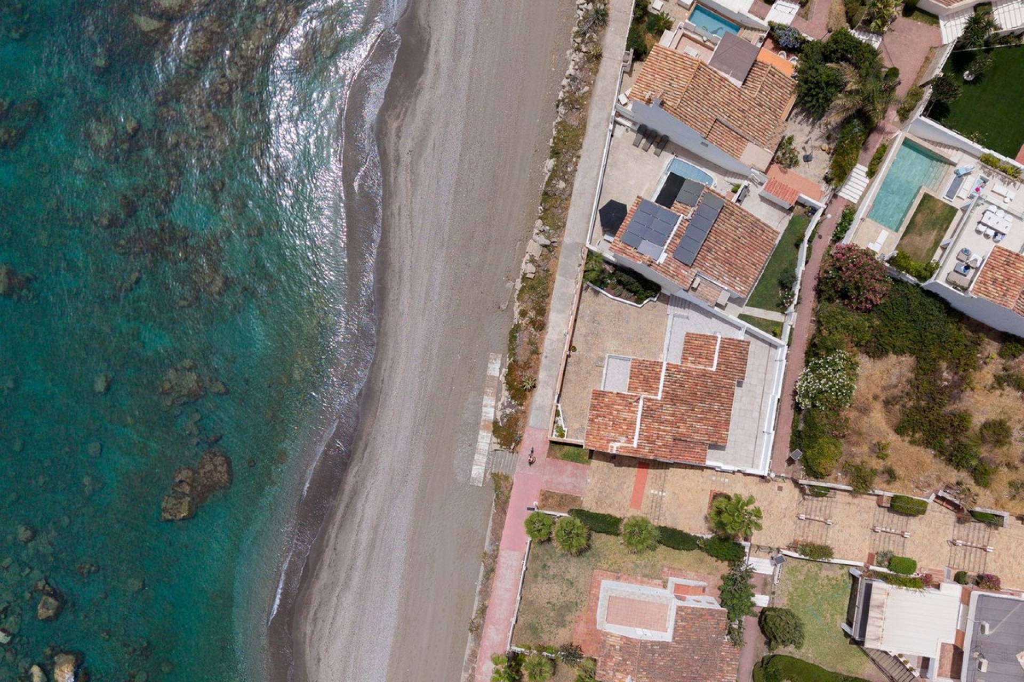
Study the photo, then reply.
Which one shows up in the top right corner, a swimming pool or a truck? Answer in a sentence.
Visible in the top right corner is a swimming pool.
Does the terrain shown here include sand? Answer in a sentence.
Yes, sand can be seen from above here.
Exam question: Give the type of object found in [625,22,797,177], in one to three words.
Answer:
house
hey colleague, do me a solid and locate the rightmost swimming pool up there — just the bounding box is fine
[860,131,961,240]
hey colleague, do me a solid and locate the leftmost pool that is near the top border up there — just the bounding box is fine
[681,0,746,38]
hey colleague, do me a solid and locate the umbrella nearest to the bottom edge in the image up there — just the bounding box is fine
[597,202,628,233]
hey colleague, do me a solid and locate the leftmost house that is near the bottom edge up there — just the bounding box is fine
[594,575,741,682]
